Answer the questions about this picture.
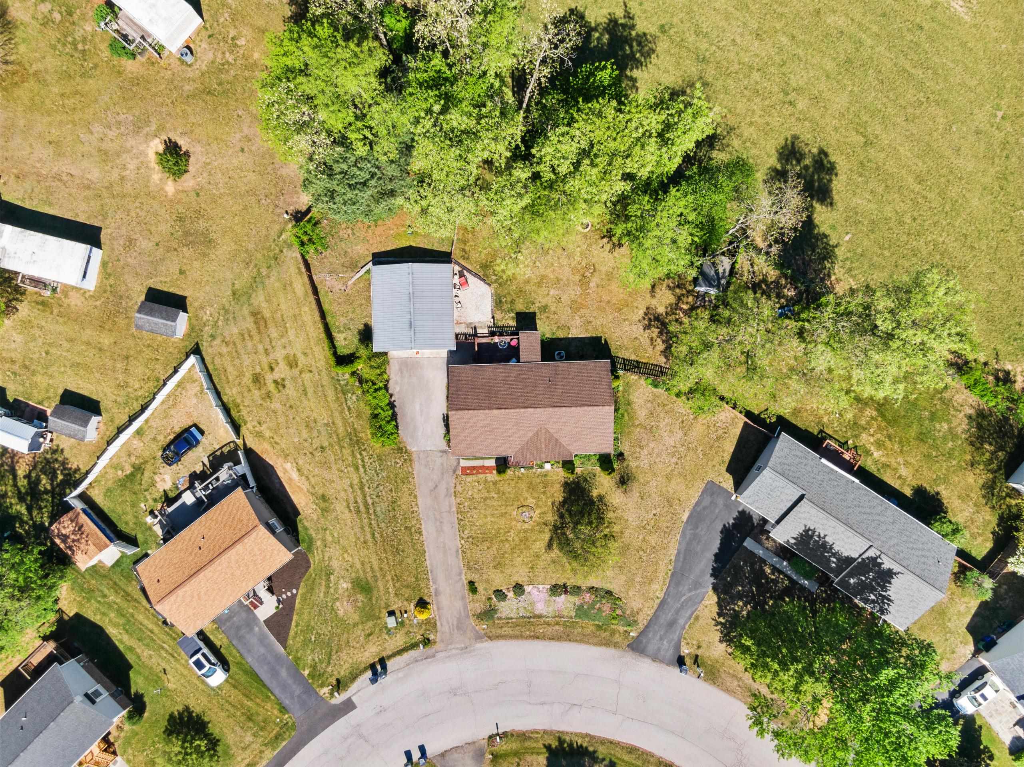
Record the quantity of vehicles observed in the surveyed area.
3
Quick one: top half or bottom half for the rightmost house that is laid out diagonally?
bottom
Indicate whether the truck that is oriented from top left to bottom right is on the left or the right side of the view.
left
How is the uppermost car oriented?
on a diagonal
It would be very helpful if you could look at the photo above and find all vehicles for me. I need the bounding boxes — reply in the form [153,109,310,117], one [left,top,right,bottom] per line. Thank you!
[178,632,229,687]
[160,425,205,467]
[955,672,1002,715]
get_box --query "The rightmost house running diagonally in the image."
[730,421,957,628]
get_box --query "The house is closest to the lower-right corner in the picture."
[973,610,1024,716]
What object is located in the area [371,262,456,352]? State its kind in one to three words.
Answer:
building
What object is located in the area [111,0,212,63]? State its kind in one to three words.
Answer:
house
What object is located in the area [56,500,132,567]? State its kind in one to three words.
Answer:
shed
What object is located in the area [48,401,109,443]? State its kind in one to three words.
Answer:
shed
